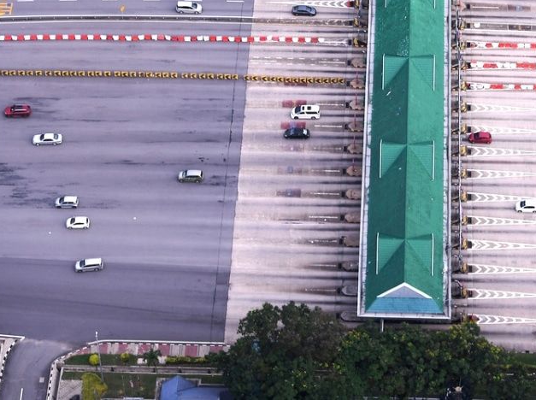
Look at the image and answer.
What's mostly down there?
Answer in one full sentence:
The bulk of the photo consists of paved ground.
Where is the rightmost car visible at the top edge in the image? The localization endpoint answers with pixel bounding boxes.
[292,4,317,16]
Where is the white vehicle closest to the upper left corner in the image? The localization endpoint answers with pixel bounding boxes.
[33,133,62,146]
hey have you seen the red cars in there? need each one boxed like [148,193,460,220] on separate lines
[4,104,32,118]
[469,132,492,144]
